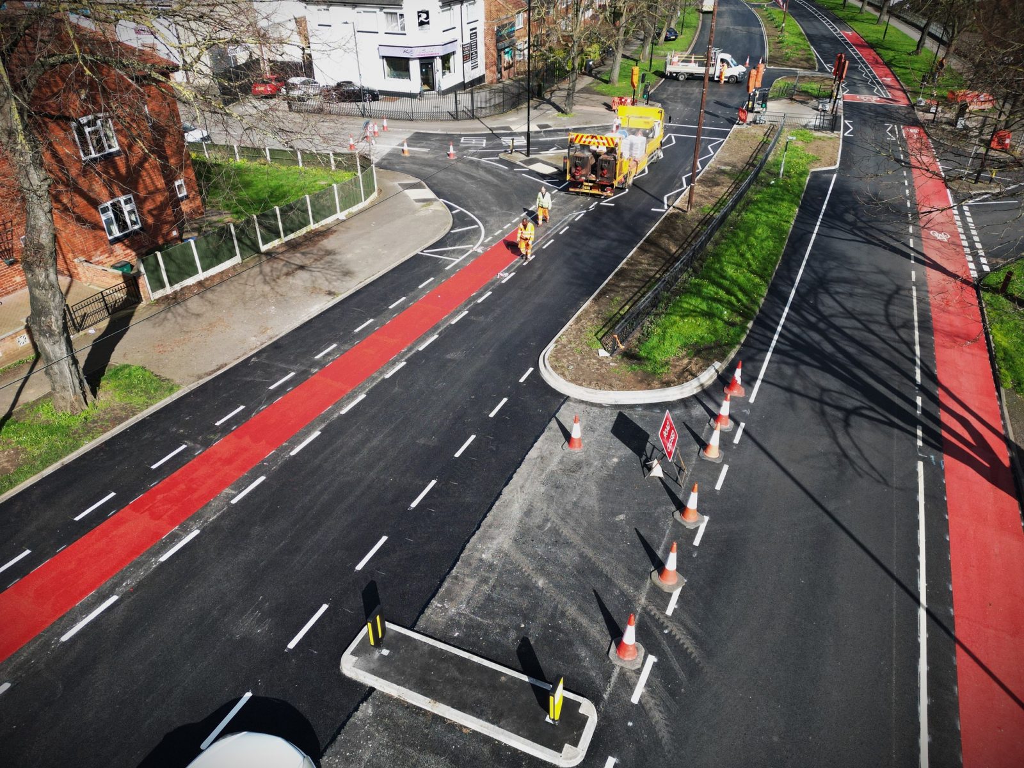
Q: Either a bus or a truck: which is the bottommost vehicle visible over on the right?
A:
truck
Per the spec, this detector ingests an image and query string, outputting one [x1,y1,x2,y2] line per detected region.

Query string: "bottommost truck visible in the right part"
[568,104,673,203]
